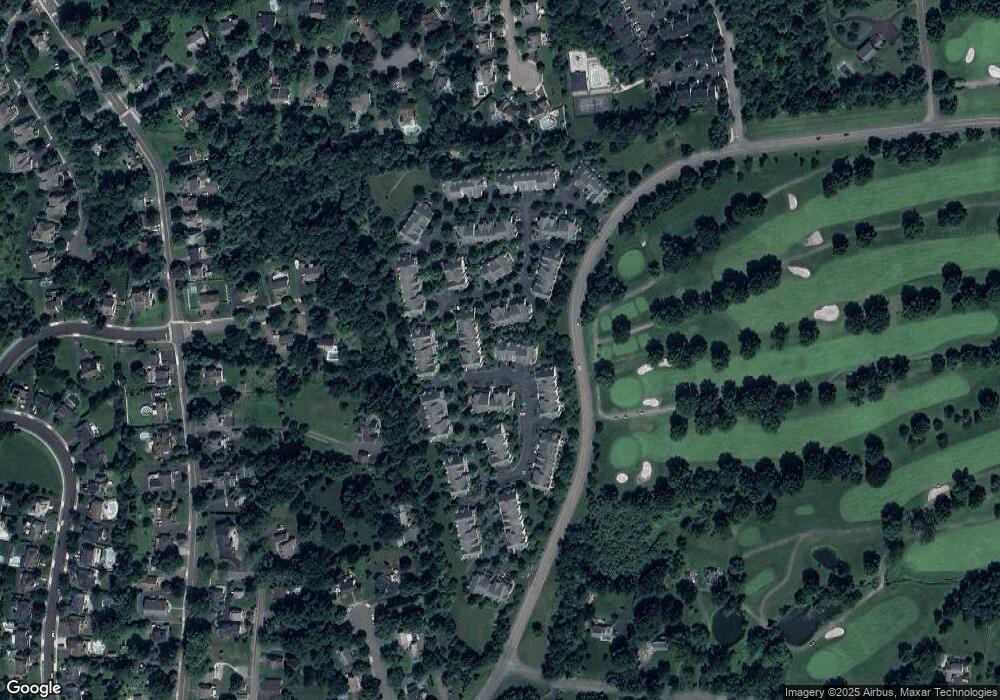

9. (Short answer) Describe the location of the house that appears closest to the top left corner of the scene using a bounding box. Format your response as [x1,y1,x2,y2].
[30,28,51,51]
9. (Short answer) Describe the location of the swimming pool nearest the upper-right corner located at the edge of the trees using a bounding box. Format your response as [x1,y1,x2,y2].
[588,58,609,89]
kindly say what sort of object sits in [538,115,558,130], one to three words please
swimming pool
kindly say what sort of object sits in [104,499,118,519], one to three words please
swimming pool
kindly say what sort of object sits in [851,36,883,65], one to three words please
barn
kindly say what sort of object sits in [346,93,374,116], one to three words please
house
